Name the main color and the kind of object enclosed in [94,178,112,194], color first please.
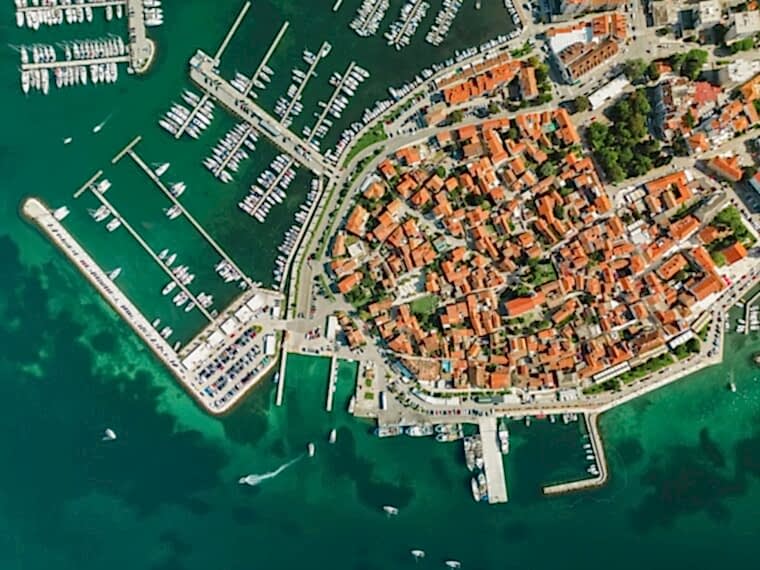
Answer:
white boat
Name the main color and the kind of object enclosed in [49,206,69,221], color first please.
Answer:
white boat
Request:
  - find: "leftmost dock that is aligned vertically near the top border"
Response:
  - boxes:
[128,0,157,74]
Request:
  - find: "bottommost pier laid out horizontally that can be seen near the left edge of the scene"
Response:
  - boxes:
[23,56,128,71]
